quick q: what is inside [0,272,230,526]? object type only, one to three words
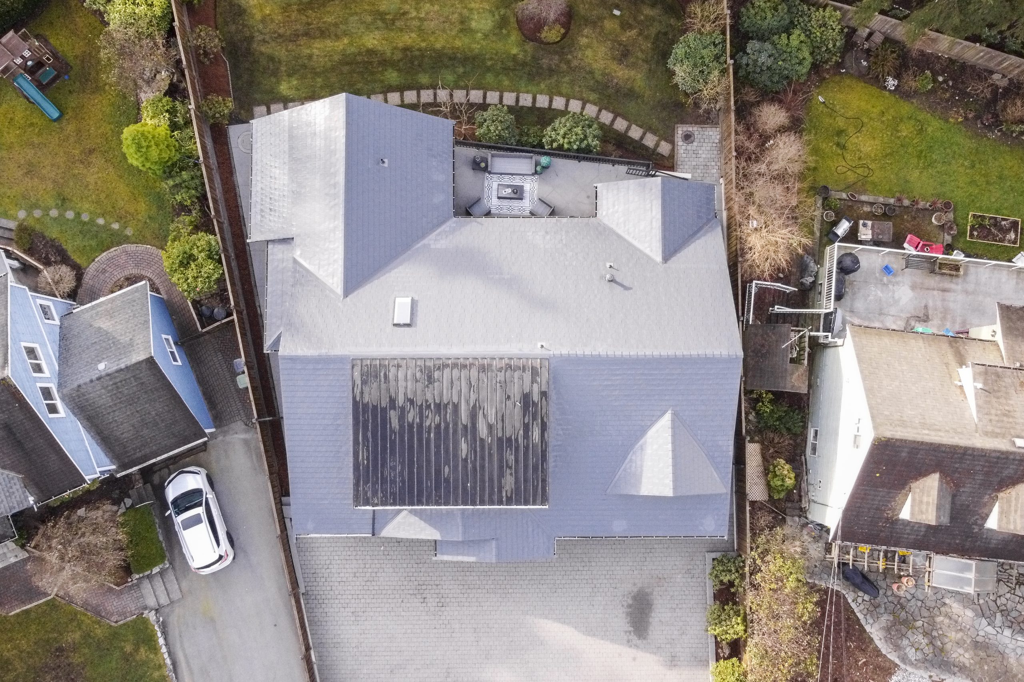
house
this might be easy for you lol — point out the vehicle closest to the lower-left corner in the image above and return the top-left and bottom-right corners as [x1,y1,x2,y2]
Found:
[160,465,234,580]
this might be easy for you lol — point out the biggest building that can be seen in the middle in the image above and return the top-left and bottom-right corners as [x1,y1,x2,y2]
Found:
[244,91,744,563]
